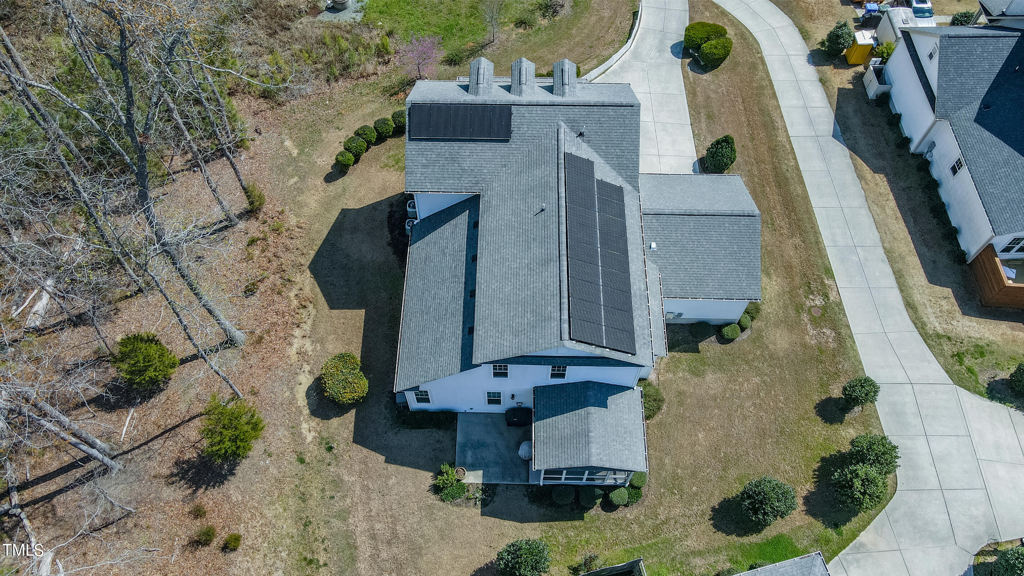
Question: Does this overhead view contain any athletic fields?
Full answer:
No, this view has no athletic field in it.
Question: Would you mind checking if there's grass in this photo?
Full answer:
Yes, grass can be seen from above here.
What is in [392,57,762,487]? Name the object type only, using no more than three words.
house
